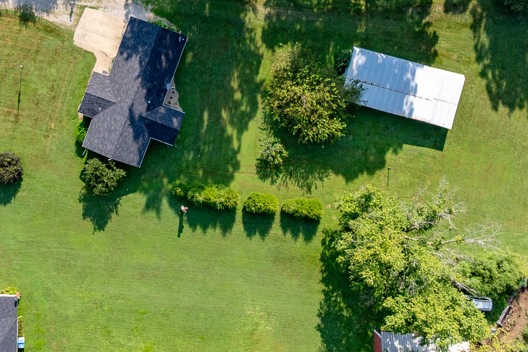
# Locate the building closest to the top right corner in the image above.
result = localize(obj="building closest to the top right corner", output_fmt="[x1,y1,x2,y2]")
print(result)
[337,47,464,133]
